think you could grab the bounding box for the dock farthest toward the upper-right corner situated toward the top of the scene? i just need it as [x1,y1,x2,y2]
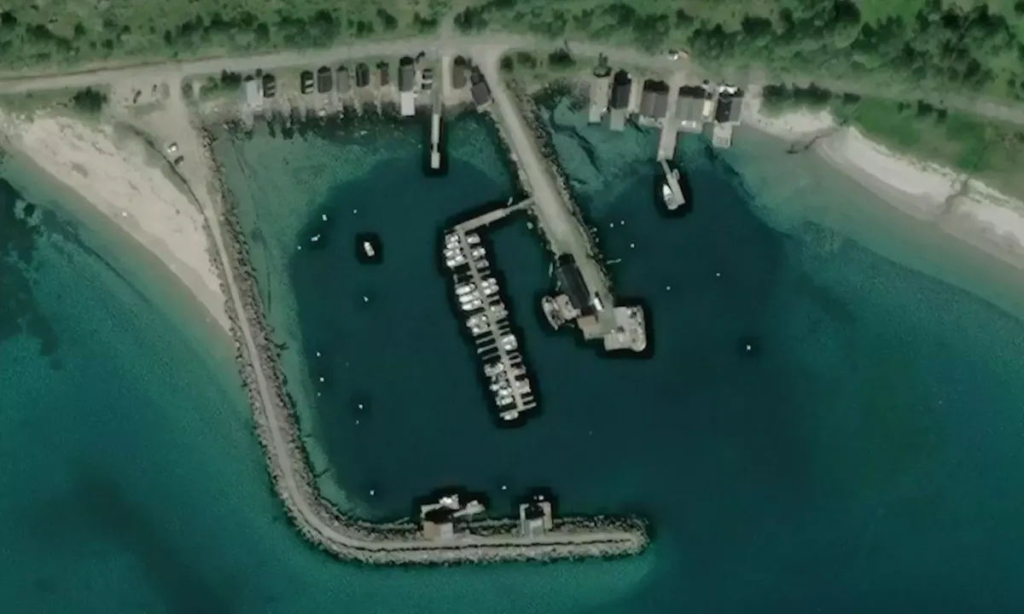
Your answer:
[713,123,741,147]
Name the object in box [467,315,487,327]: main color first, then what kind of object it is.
white boat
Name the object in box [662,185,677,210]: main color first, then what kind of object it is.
white boat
